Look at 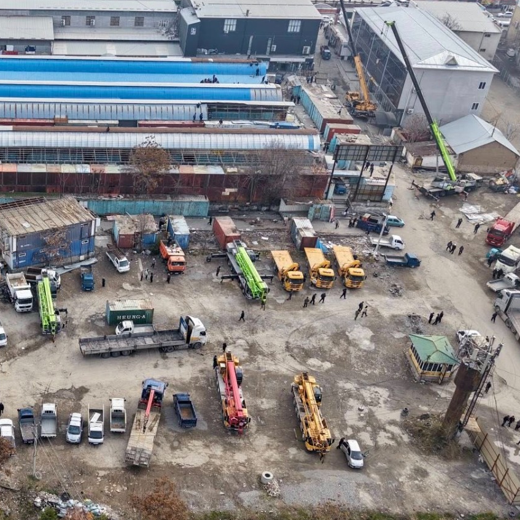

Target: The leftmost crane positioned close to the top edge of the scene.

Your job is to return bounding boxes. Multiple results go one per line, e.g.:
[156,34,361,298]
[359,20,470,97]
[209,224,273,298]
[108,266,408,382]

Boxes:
[328,0,392,115]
